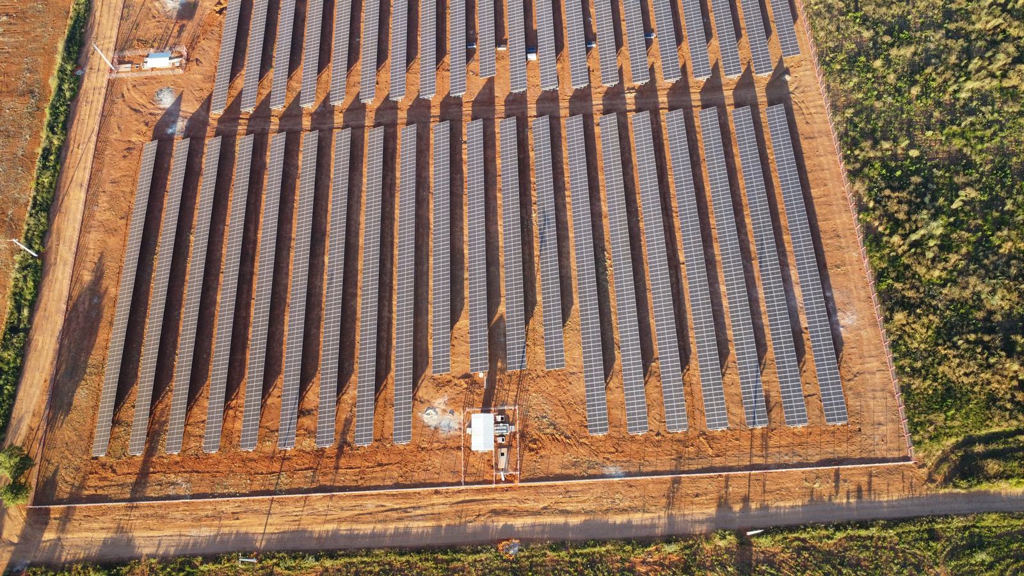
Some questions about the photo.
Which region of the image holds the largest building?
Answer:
bottom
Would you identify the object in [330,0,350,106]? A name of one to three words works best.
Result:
solar array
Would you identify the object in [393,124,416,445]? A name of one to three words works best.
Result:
solar array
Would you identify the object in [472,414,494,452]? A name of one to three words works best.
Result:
building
